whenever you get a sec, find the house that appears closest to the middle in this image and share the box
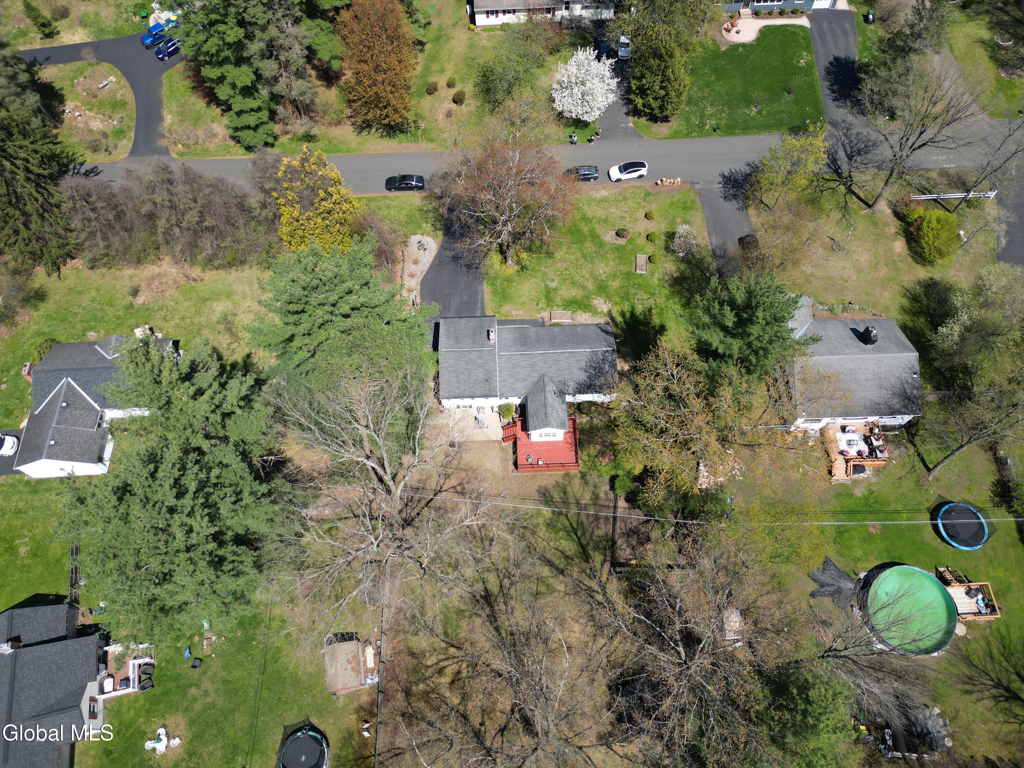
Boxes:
[439,316,619,437]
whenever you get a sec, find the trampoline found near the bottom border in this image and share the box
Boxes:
[266,722,332,768]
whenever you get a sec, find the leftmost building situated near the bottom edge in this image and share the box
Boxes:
[0,604,108,768]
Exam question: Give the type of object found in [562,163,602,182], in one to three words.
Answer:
car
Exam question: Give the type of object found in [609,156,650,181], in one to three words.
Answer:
car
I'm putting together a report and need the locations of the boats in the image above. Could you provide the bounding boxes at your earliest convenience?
[13,414,29,434]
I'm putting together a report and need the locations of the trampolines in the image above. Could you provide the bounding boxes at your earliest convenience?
[933,493,1005,554]
[266,722,332,768]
